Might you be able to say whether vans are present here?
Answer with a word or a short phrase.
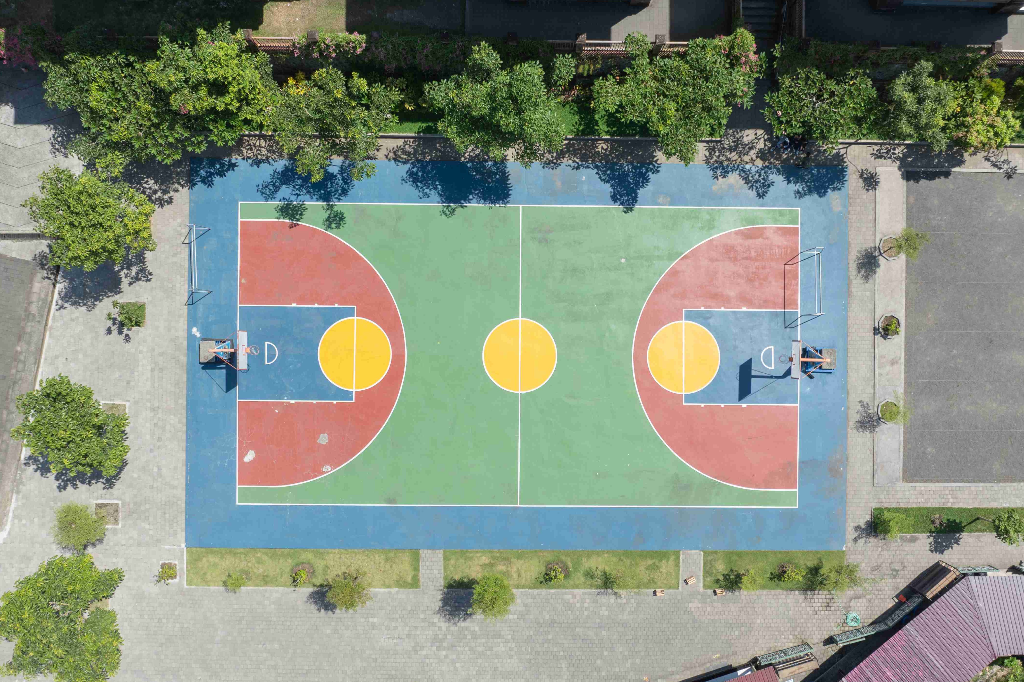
No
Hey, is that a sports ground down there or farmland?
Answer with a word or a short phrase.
sports ground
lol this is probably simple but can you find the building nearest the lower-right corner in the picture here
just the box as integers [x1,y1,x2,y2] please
[845,576,1024,682]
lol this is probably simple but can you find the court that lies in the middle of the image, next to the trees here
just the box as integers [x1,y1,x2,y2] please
[185,158,848,551]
